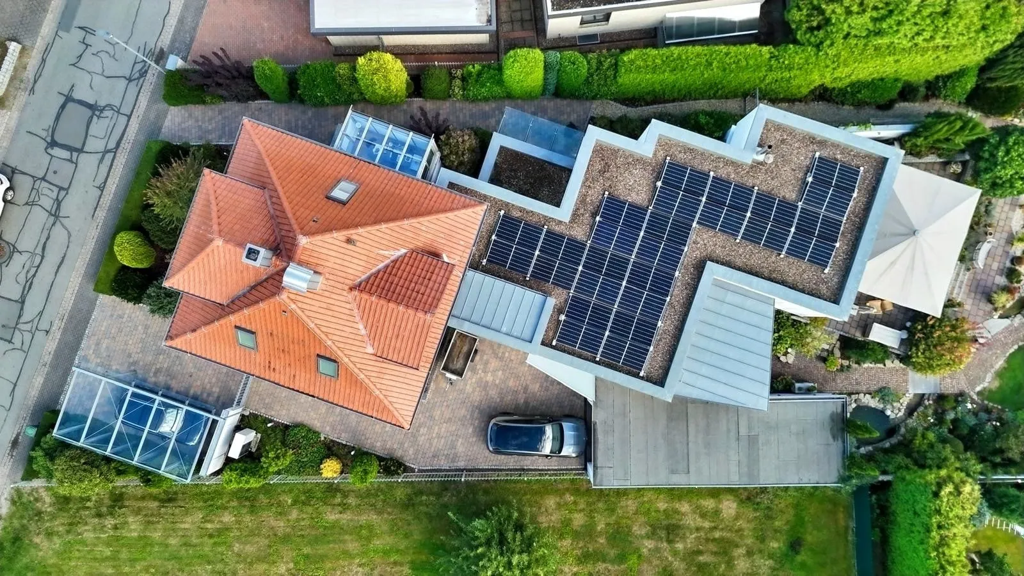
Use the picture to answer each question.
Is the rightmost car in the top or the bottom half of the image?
bottom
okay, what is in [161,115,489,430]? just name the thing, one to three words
house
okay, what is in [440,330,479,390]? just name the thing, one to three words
trailer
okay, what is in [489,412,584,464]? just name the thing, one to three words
car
